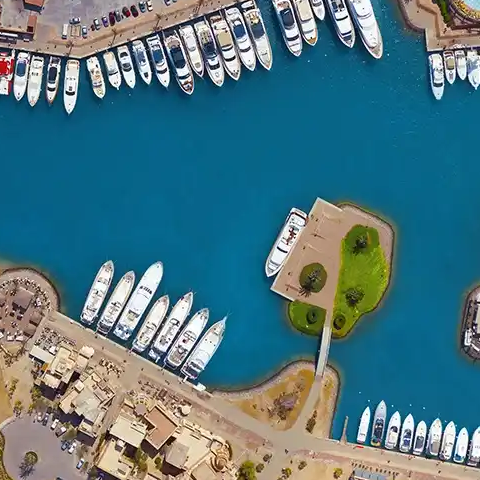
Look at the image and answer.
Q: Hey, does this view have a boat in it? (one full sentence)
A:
Yes, a boat appears in the view.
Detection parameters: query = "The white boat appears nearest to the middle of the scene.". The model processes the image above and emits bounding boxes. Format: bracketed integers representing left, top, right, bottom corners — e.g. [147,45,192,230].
[267,206,309,275]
